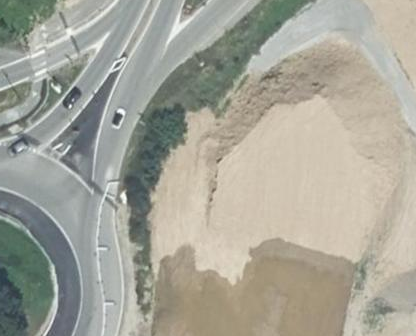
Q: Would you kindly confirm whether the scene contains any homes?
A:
No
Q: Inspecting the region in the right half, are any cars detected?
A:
No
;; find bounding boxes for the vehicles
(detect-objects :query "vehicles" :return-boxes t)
[63,86,82,108]
[8,138,30,155]
[113,107,126,129]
